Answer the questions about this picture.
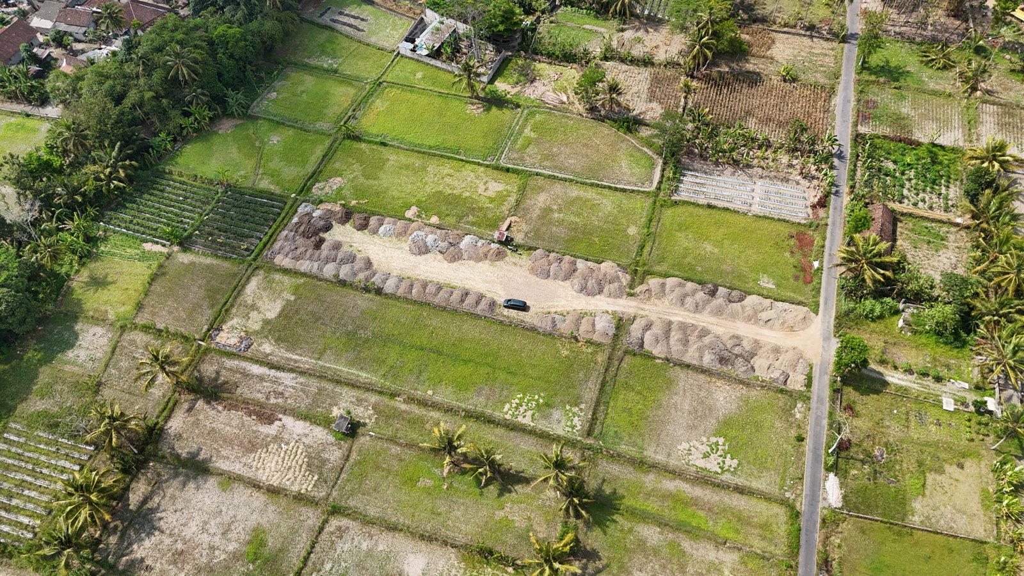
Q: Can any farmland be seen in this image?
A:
Yes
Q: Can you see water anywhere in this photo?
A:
No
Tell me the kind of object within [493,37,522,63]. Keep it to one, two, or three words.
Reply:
building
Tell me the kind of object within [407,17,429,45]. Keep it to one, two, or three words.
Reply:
shed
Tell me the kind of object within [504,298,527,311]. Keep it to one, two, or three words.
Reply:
vehicle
